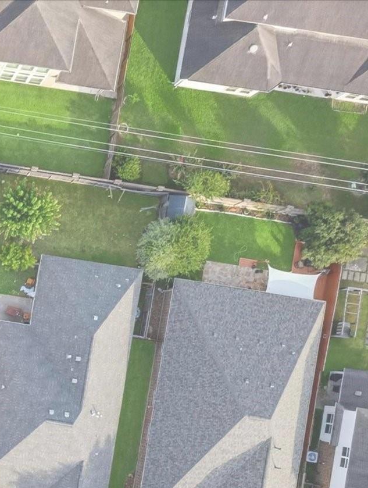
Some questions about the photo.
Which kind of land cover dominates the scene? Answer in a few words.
buildings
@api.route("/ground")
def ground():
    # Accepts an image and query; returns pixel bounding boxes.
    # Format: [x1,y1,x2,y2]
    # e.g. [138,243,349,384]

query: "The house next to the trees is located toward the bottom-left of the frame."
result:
[0,254,143,488]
